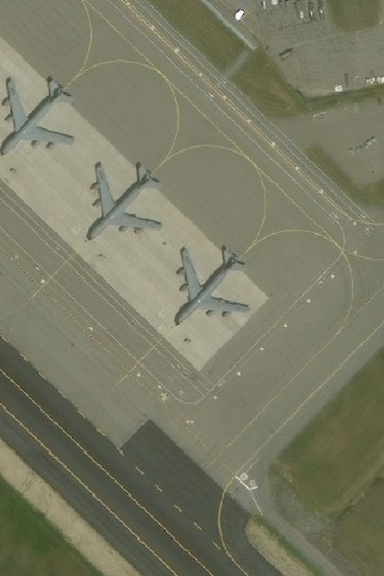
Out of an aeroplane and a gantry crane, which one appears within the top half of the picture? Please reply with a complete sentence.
The one visible within the top half of the picture is an aeroplane.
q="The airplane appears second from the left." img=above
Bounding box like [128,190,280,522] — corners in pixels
[88,164,163,239]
